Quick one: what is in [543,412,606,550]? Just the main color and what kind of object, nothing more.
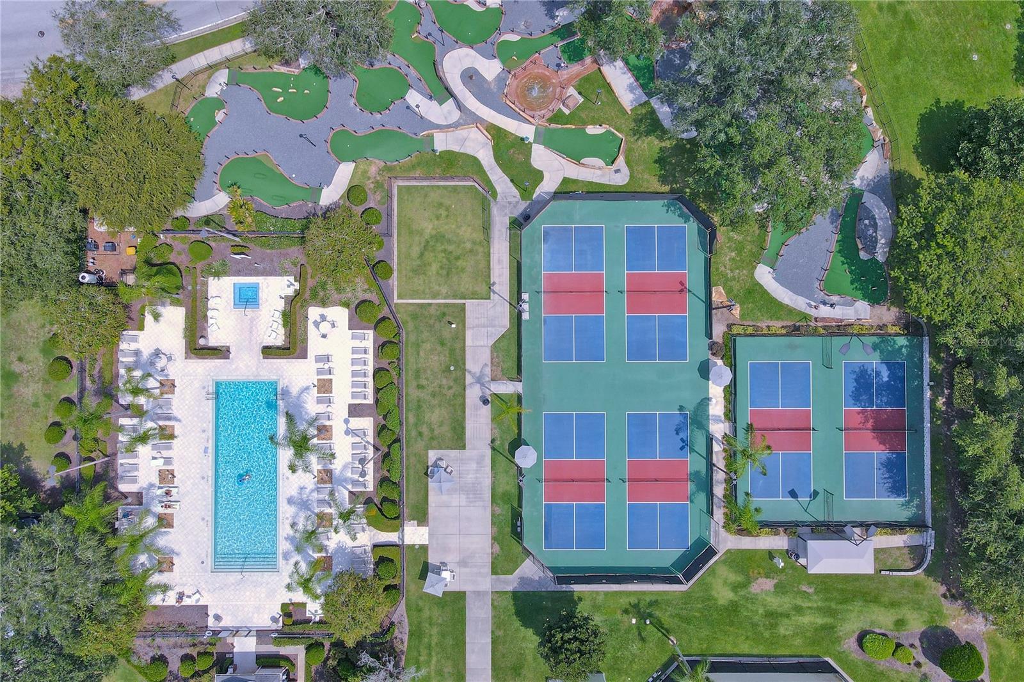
blue sports court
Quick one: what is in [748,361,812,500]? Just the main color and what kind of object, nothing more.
blue sports court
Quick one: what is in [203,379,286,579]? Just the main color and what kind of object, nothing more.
blue swimming pool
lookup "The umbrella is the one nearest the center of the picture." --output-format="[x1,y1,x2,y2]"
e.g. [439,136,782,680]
[515,445,537,467]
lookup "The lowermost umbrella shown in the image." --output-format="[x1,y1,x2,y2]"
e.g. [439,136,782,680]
[421,570,449,598]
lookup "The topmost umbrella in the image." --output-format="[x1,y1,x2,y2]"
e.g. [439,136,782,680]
[708,364,731,387]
